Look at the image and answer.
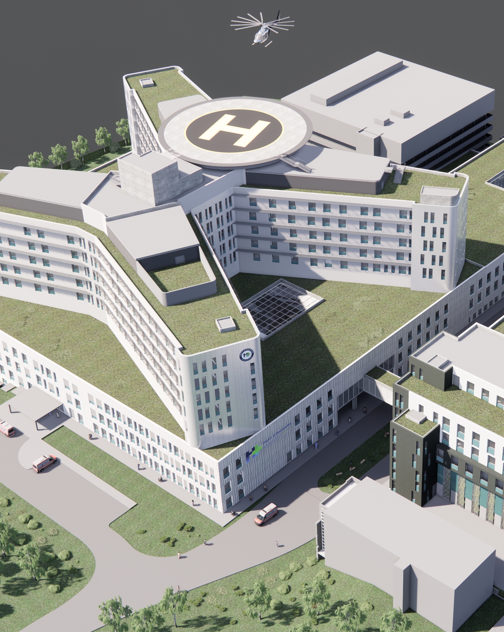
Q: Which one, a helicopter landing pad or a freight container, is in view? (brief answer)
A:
helicopter landing pad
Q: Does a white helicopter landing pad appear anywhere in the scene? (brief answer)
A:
Yes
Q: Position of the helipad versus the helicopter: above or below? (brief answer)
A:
below it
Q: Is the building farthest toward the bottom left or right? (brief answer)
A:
right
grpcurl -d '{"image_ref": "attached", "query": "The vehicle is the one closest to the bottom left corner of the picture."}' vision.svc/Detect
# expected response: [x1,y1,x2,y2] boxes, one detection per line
[30,457,57,477]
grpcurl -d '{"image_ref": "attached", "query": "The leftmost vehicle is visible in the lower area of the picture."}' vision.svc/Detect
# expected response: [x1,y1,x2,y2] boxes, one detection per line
[0,421,17,440]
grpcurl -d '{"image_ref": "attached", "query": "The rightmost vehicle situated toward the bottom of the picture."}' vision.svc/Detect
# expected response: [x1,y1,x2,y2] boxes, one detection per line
[254,504,282,528]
